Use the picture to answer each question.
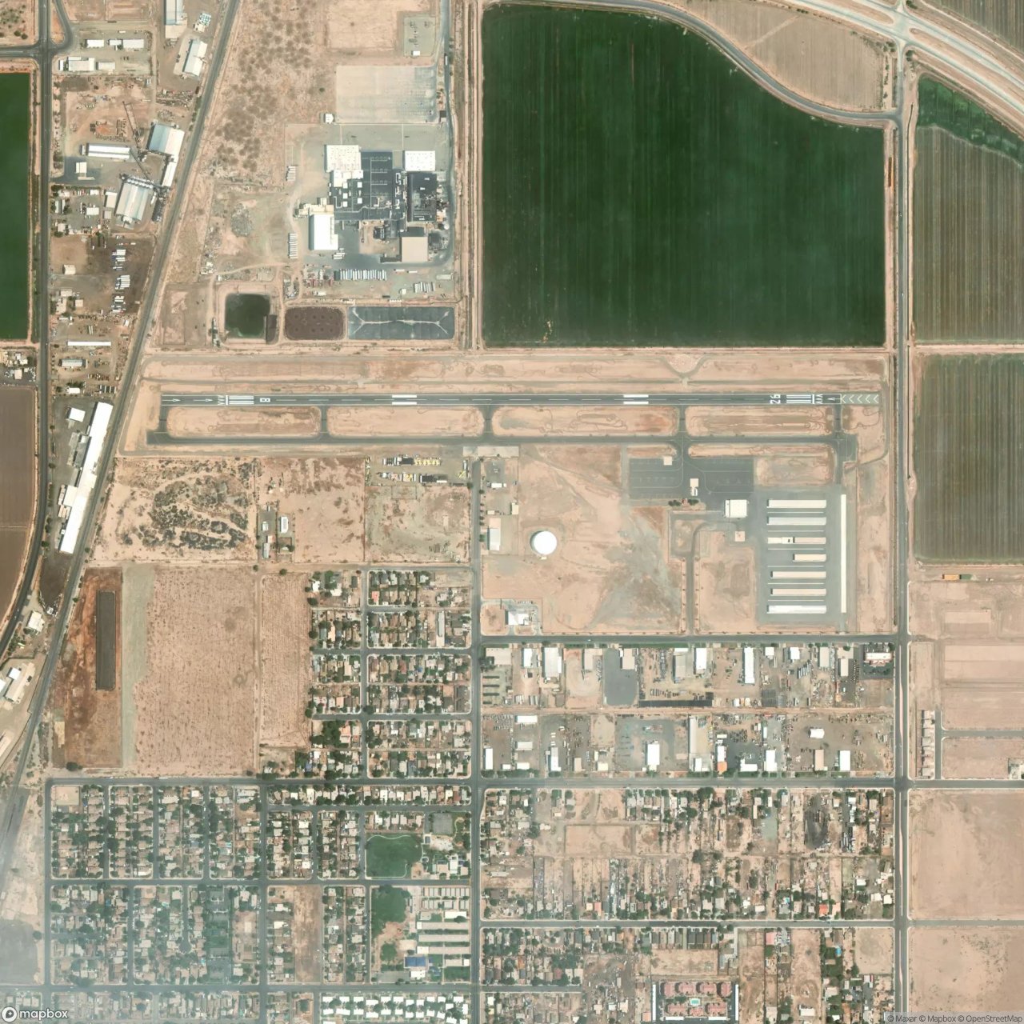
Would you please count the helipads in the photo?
none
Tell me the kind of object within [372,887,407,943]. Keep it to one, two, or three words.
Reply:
sports field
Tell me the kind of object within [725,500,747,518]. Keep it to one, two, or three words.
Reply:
hangar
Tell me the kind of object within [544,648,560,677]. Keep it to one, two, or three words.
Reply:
building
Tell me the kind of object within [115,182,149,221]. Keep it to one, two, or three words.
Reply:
building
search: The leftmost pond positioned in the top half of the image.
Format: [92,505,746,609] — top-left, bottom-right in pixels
[222,290,273,343]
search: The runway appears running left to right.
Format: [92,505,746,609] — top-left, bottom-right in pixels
[162,393,880,407]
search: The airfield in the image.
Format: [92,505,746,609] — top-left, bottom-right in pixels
[147,393,880,622]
